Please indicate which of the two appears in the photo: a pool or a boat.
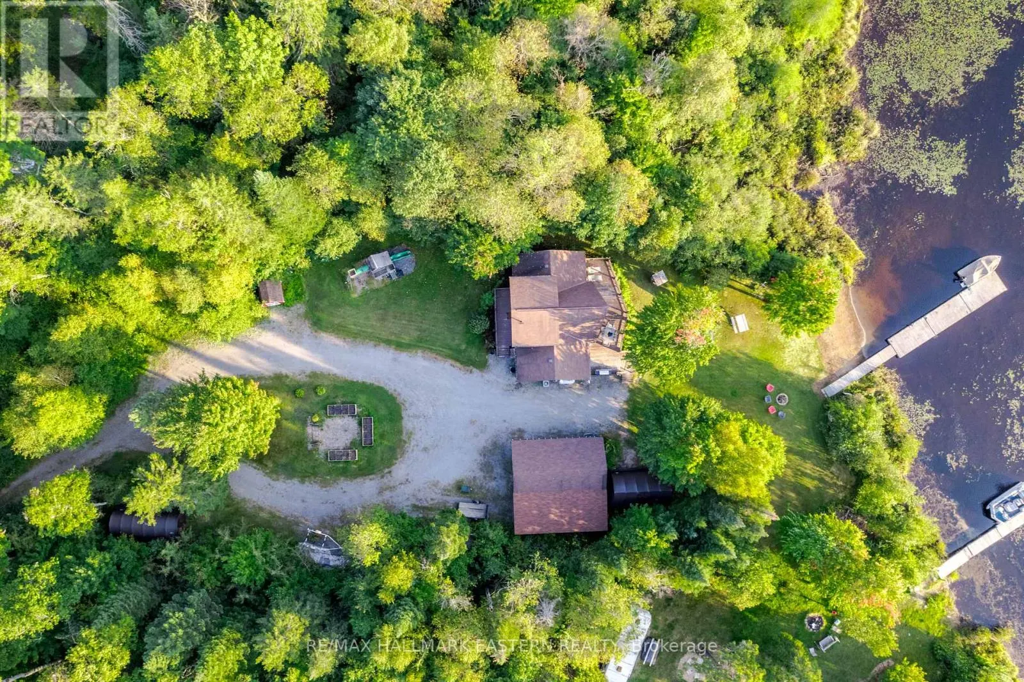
boat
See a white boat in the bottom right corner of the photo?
Yes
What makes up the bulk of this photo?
trees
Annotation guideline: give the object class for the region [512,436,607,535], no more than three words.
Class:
building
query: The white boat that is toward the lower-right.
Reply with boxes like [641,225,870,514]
[994,481,1024,519]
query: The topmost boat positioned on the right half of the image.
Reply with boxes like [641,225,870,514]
[956,257,1004,287]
